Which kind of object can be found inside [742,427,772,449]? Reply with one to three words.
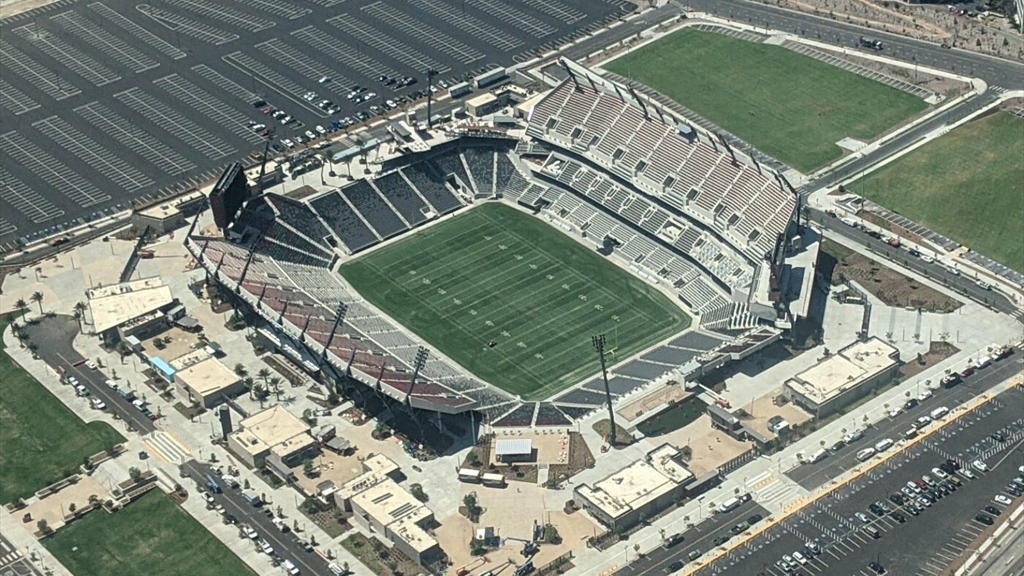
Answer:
building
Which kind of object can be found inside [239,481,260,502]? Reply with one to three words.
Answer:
truck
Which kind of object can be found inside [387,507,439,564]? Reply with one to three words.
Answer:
building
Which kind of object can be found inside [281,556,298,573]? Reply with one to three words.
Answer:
vehicle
